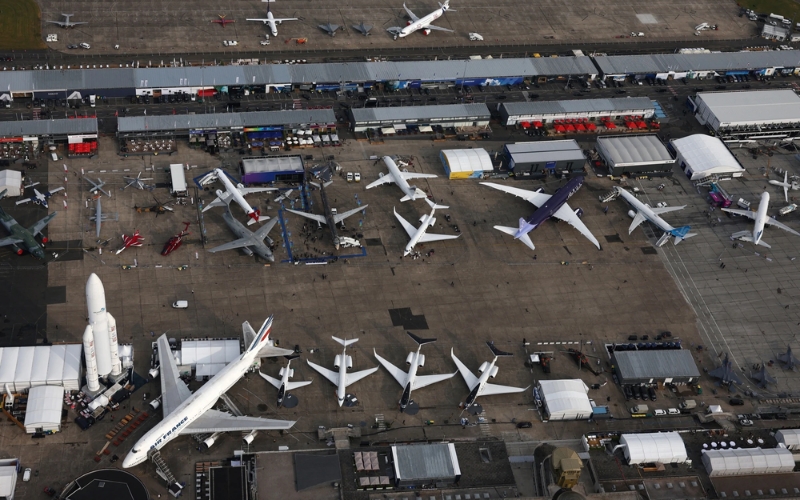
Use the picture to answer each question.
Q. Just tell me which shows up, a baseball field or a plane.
plane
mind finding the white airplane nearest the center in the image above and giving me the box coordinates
[394,196,462,255]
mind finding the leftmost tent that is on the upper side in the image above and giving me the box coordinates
[0,171,20,196]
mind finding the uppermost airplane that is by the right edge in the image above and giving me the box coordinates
[769,169,794,198]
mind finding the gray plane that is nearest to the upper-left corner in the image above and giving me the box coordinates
[46,11,88,30]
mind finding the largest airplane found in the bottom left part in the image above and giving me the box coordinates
[122,323,295,469]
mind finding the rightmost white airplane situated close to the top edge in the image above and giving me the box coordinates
[396,0,455,39]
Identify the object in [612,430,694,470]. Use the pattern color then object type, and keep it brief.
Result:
white tent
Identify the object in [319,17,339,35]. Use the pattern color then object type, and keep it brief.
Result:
gray airplane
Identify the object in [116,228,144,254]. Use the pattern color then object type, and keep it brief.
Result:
red airplane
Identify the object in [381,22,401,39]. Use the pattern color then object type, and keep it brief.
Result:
gray airplane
